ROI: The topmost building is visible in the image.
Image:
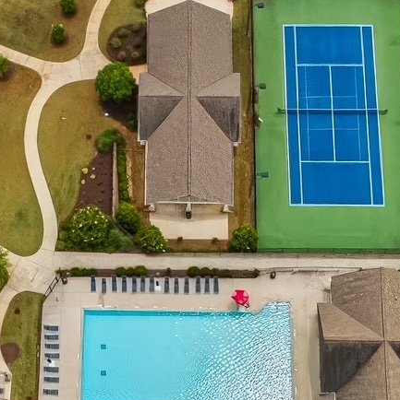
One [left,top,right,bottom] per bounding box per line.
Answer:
[135,0,241,240]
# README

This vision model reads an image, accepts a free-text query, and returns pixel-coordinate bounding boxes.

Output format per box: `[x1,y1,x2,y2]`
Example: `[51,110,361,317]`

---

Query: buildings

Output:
[317,267,400,400]
[135,0,241,240]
